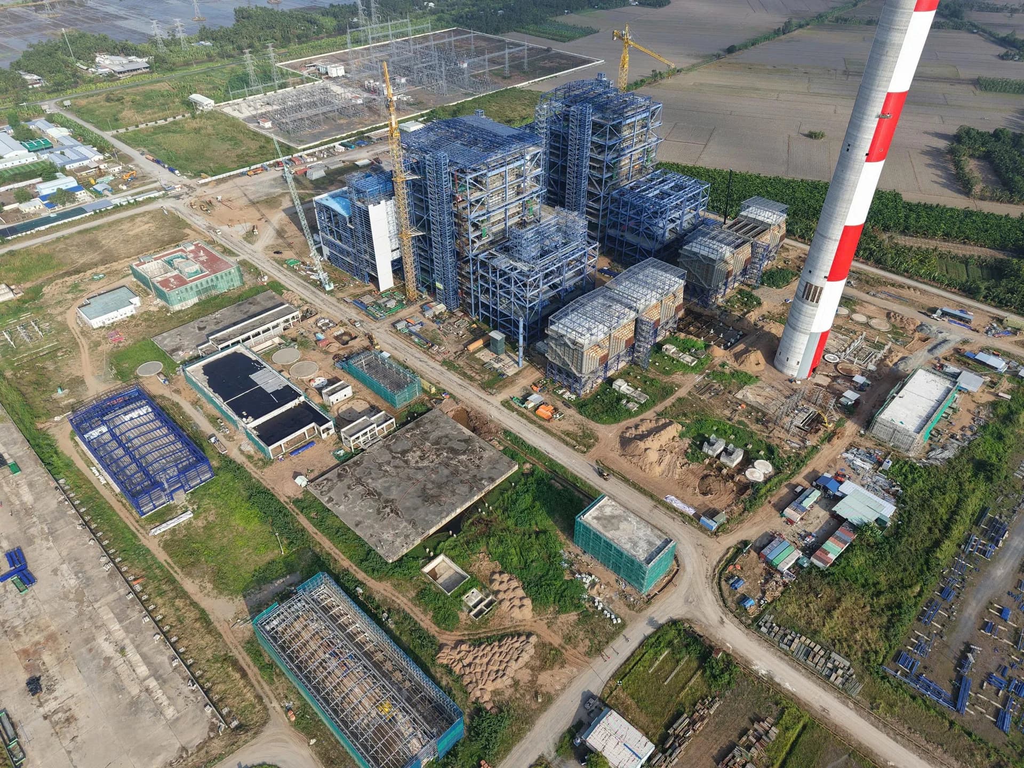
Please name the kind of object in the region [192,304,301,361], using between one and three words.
shed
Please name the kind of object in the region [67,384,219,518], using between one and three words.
building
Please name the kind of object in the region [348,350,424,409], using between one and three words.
building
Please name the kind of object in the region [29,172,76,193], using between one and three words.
shed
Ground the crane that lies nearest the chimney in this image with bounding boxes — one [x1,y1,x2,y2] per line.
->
[607,27,676,90]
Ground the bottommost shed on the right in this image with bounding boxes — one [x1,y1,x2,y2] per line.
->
[579,700,660,768]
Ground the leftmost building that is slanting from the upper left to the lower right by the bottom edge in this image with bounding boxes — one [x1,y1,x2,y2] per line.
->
[252,570,497,768]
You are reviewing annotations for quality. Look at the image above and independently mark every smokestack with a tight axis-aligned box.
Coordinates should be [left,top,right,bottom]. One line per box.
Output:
[774,0,939,381]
